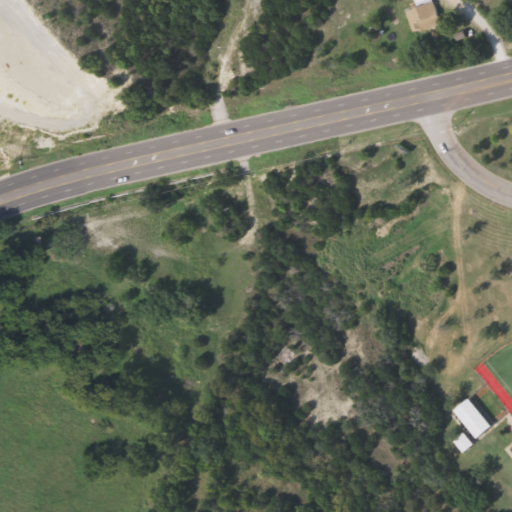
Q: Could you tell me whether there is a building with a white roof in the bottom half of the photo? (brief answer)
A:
Yes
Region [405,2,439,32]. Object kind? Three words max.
house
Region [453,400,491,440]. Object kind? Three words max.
building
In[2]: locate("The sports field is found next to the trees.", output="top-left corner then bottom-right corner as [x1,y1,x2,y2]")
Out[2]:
[476,342,512,398]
